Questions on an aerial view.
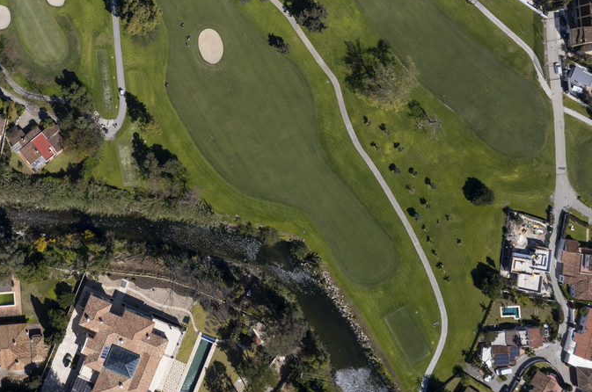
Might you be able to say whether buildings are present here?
Yes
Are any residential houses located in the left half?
Yes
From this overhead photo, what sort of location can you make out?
golf course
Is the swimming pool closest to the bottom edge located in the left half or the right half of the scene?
left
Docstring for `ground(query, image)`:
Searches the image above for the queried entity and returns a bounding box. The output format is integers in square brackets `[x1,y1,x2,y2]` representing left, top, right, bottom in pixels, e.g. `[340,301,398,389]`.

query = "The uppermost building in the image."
[563,0,592,46]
